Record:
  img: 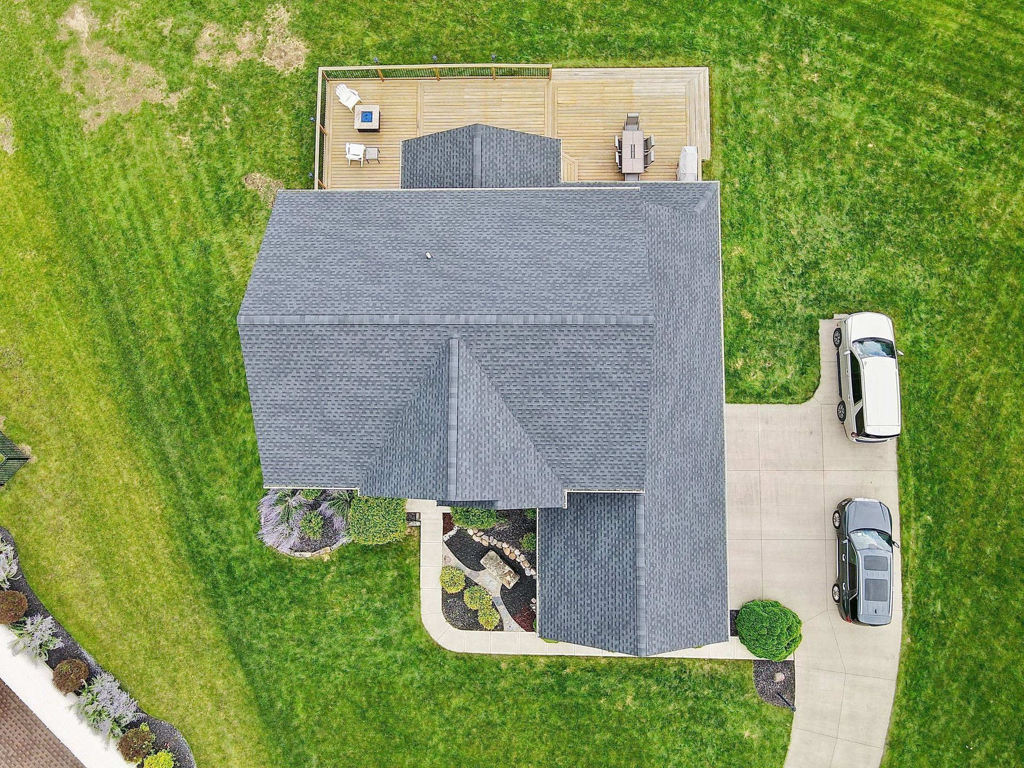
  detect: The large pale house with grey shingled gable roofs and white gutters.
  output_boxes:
[238,124,730,657]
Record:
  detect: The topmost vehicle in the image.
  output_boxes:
[833,310,902,443]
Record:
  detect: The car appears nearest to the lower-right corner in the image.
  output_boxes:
[832,497,899,625]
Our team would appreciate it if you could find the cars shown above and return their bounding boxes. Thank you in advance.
[833,310,902,443]
[832,497,899,625]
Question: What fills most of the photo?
grass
